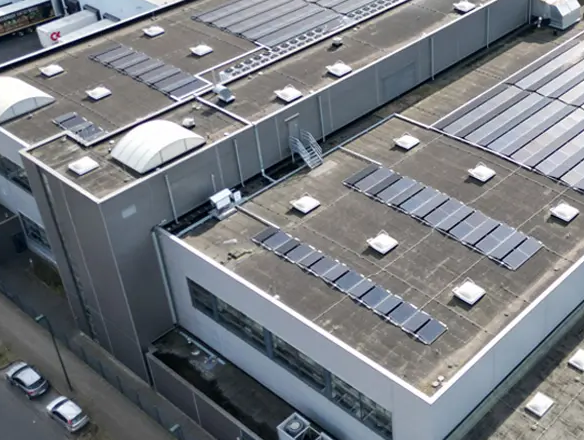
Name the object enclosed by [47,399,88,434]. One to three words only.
car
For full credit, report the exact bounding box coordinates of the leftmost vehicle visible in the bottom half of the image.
[7,364,47,399]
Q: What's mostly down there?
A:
buildings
